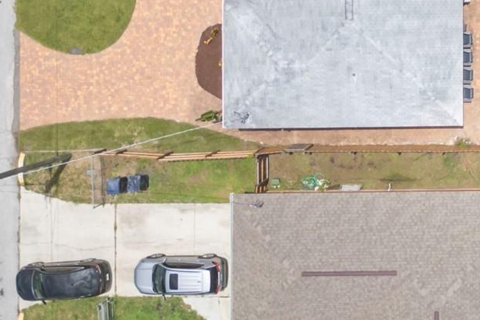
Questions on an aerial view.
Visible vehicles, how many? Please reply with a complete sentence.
The number of vehicles here is 2.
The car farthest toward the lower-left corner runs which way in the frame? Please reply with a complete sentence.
From this overhead view, the car farthest toward the lower-left corner appears to run horizontally.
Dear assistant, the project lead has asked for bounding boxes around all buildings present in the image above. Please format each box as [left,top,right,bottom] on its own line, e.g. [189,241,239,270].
[222,0,463,128]
[229,189,480,320]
